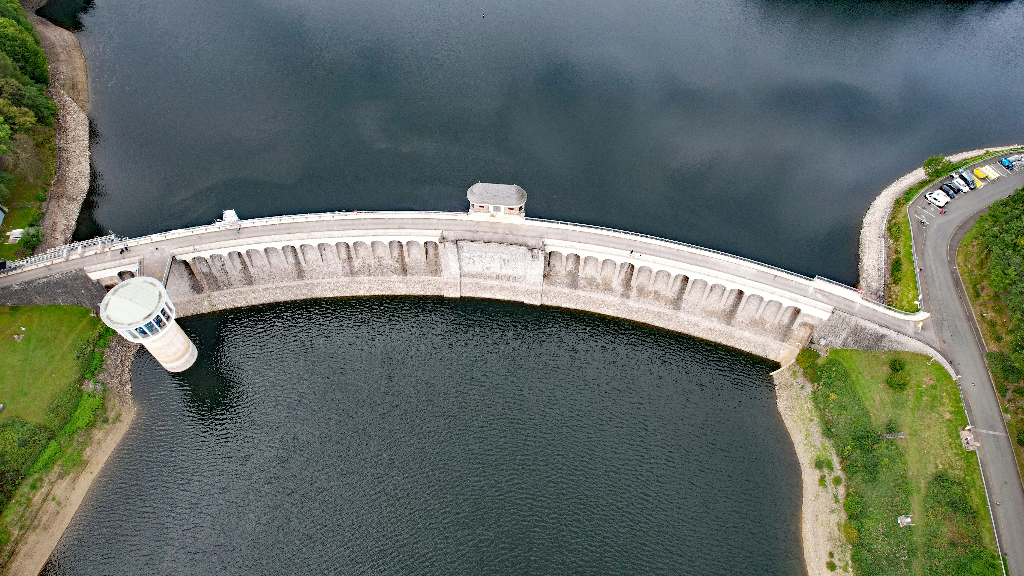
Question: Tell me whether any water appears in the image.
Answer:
Yes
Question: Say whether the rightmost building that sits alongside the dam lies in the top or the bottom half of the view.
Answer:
top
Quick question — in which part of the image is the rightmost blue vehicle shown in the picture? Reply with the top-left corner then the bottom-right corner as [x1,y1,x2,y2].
[1000,159,1020,176]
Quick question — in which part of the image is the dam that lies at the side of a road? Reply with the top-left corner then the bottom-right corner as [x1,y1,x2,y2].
[0,207,882,360]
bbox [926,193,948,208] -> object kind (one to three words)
vehicle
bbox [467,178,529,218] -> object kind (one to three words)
building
